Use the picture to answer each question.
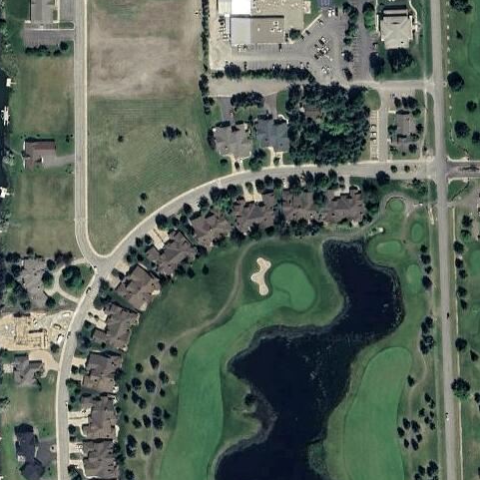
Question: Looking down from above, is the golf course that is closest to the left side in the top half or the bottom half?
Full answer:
The golf course that is closest to the left side is in the bottom half of the image.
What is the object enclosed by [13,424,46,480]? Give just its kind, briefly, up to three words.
house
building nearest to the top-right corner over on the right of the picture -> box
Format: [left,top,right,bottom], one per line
[381,8,412,50]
